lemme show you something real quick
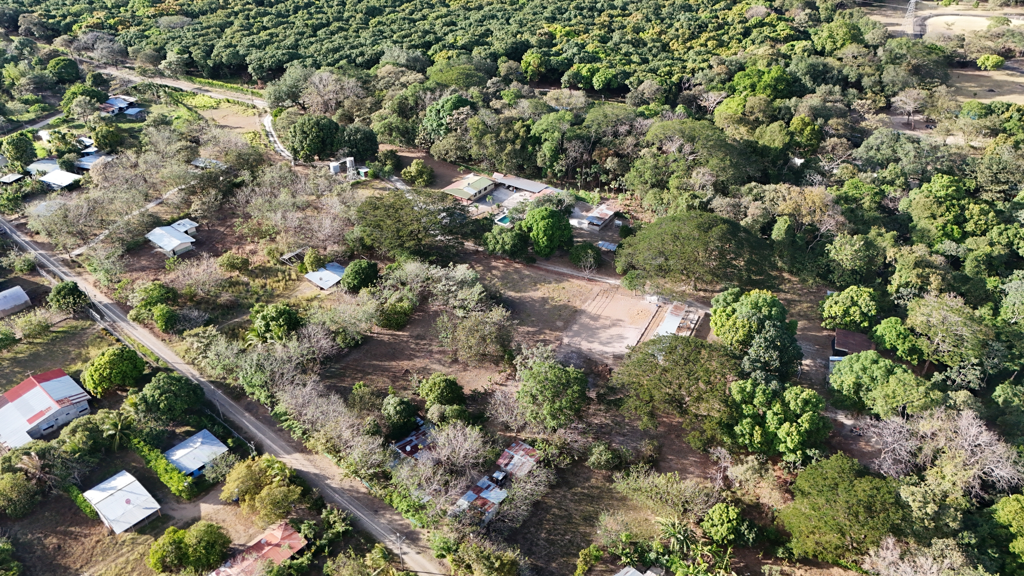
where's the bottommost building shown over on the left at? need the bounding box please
[214,522,307,576]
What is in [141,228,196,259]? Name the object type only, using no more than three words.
house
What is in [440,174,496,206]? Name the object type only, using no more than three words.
building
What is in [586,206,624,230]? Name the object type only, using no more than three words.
shed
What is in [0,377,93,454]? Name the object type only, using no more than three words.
building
